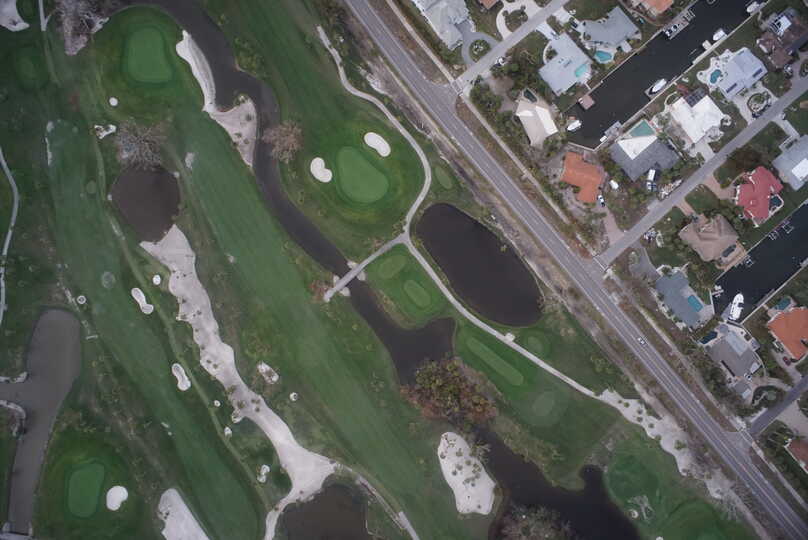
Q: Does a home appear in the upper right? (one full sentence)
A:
Yes, a home can be seen in the upper right.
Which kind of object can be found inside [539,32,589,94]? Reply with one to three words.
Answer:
house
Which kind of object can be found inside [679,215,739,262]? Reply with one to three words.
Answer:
house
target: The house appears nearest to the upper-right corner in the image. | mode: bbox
[759,6,808,68]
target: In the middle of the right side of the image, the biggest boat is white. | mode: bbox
[729,293,744,323]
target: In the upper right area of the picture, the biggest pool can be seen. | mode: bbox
[629,118,657,137]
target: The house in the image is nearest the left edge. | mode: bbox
[418,0,469,49]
